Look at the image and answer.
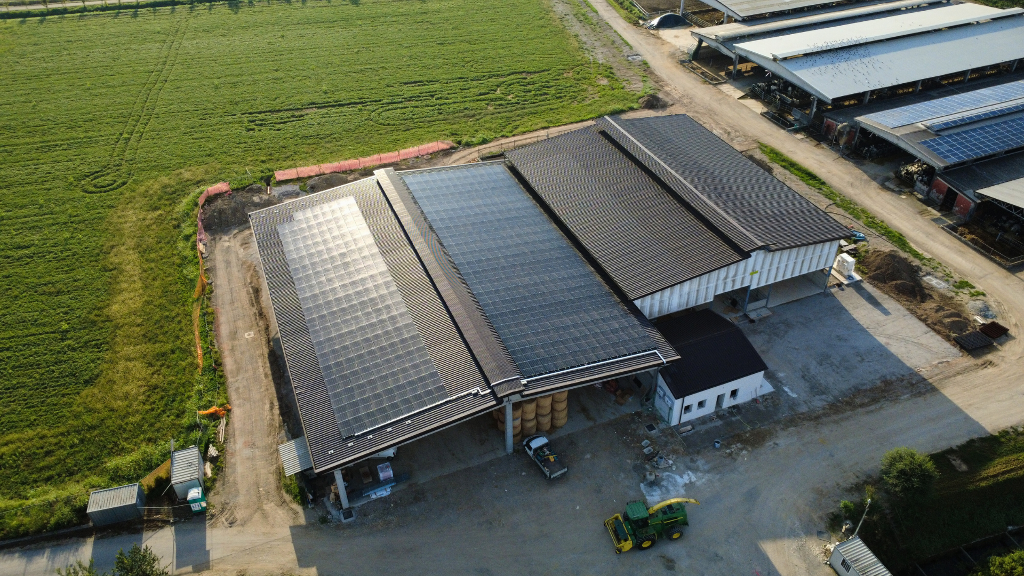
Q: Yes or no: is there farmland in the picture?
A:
Yes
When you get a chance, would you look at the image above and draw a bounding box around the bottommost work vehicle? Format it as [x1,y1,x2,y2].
[604,498,705,560]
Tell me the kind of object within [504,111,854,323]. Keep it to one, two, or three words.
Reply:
barn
